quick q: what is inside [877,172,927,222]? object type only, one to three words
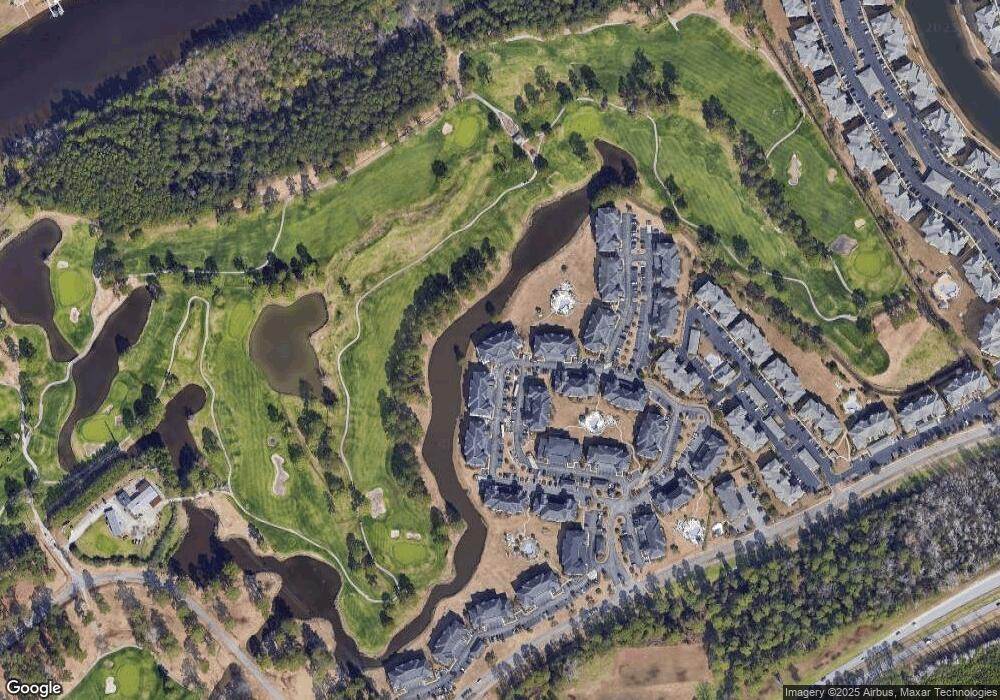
building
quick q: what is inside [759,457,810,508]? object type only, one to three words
building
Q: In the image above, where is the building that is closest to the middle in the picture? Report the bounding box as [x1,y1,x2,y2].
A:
[474,326,524,368]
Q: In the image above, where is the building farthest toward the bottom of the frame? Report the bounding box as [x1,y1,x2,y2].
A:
[386,656,438,697]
